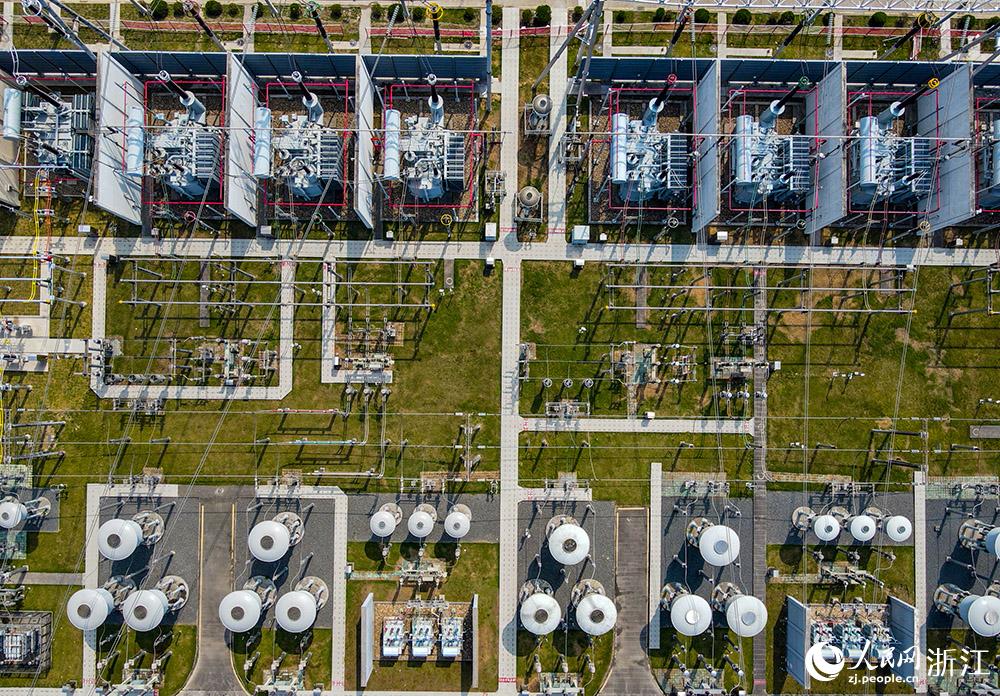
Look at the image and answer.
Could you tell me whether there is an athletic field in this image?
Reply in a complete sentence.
No, the photo shows no athletic field.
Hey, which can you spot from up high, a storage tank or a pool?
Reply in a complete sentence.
There is a storage tank in the scene.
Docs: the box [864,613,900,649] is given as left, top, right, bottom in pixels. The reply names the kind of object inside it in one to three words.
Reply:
storage tank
